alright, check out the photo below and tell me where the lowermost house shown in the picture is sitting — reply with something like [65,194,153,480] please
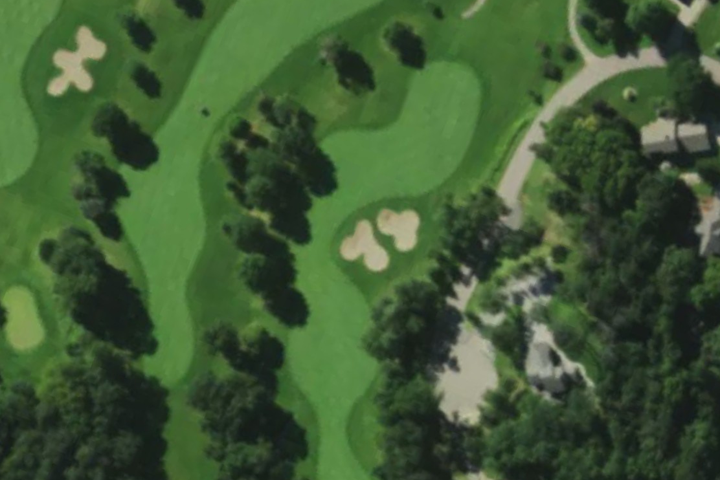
[524,349,572,392]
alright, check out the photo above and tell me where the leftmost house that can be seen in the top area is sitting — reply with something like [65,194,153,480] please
[640,118,680,156]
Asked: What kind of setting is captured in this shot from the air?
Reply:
golf course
